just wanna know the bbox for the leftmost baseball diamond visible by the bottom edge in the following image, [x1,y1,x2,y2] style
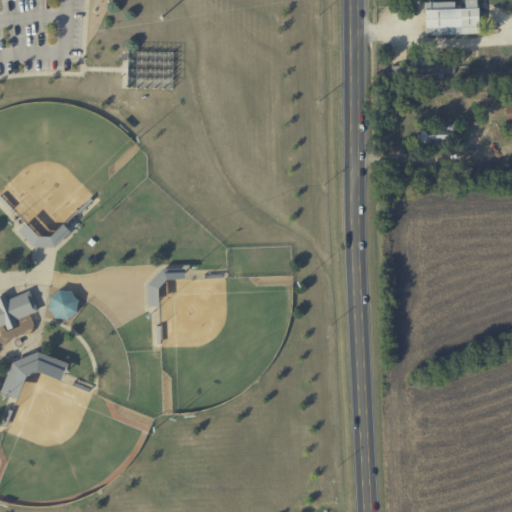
[0,372,153,506]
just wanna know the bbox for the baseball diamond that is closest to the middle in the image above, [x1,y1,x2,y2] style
[160,247,293,414]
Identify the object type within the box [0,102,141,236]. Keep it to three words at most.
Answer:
baseball field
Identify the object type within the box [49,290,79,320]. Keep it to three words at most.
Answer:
gazebo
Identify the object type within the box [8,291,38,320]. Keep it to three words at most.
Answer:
building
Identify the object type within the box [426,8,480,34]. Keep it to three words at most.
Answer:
barn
